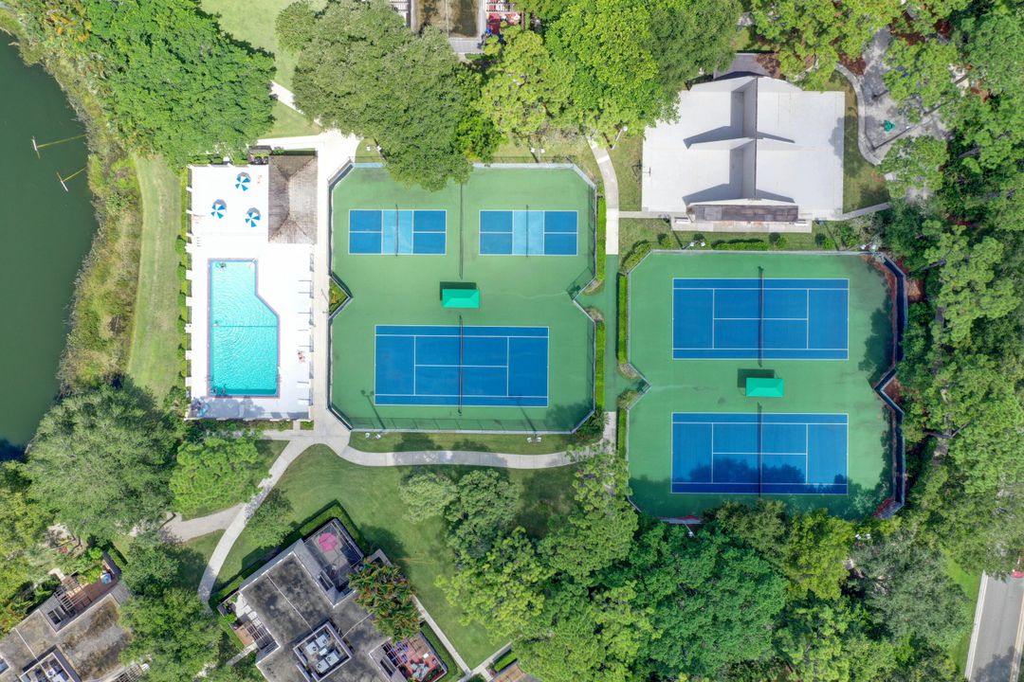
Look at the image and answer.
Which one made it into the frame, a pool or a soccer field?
pool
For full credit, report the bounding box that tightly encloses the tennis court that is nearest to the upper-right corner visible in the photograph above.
[673,270,849,366]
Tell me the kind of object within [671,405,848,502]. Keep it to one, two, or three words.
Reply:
tennis court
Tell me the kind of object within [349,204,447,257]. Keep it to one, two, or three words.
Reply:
sports court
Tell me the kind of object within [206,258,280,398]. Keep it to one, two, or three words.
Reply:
swimming pool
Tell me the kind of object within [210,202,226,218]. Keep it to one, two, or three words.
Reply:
umbrella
